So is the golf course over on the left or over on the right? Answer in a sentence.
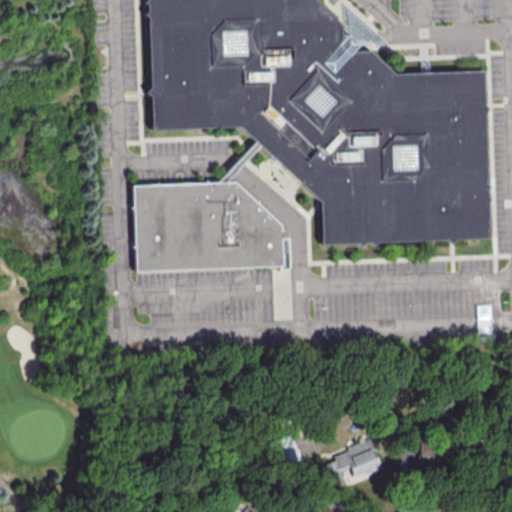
The golf course sits on the left side.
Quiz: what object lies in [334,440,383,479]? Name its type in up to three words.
house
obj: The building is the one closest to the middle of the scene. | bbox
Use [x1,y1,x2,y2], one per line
[134,182,292,272]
